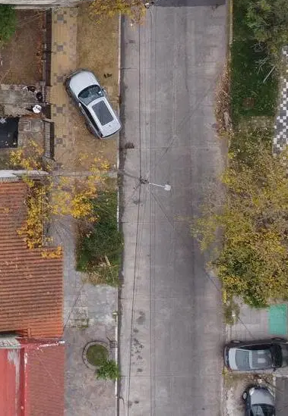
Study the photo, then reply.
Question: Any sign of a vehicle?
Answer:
Yes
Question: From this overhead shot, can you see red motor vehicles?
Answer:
No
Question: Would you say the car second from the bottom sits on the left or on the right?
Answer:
right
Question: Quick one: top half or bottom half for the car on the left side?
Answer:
top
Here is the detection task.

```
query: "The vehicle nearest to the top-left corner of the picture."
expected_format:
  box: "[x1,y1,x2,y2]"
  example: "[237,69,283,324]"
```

[65,69,123,140]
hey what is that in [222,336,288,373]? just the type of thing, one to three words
car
